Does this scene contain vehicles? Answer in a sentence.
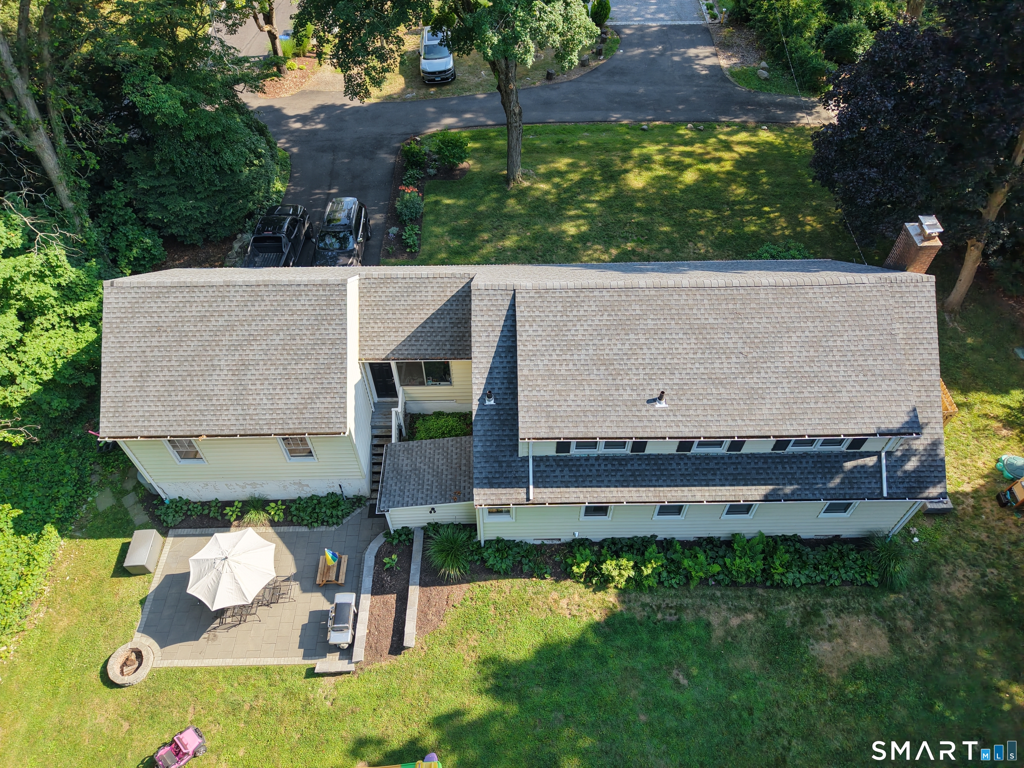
Yes, a vehicle is visible in the scene.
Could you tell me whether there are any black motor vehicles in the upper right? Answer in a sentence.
No, the scene shows no black motor vehicle in the upper right.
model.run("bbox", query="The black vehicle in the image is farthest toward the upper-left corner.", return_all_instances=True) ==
[243,209,315,266]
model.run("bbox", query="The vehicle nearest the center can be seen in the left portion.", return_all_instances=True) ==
[313,196,374,265]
